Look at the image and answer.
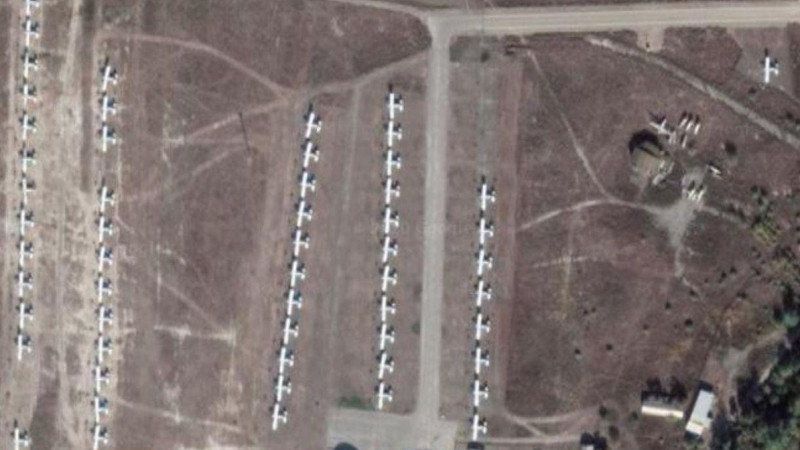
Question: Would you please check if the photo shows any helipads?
No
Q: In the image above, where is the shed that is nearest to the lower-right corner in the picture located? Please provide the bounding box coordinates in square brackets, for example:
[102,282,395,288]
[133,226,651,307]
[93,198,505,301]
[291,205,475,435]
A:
[686,390,715,438]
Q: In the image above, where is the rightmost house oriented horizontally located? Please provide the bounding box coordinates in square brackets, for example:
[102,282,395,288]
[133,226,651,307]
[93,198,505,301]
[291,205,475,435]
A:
[641,400,684,417]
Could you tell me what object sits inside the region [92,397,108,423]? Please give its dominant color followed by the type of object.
white airplane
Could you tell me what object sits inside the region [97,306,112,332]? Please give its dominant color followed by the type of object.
white airplane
